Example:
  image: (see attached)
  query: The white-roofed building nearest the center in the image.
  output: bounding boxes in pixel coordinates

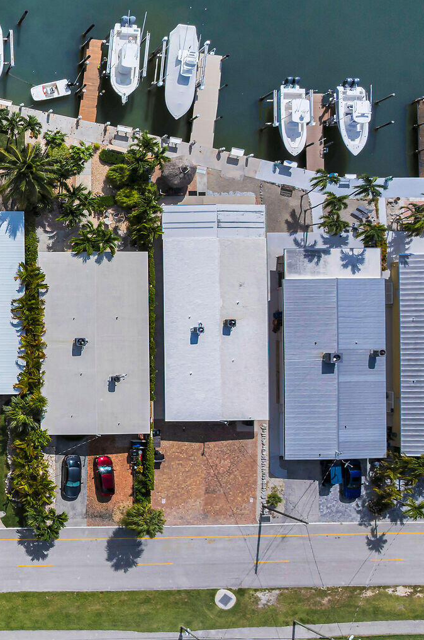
[157,205,269,422]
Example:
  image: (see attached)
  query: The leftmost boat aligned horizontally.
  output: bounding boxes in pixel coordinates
[32,79,77,99]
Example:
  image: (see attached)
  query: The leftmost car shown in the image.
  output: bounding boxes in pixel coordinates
[59,454,83,498]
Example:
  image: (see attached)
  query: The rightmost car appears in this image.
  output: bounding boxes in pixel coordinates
[338,460,364,499]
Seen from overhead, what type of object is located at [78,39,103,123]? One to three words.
pier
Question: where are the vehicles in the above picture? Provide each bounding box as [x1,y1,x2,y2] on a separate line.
[338,460,364,499]
[59,454,83,498]
[91,454,116,496]
[320,463,343,485]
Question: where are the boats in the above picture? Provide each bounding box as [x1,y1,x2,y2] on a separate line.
[335,78,402,156]
[110,18,165,105]
[32,79,77,99]
[164,25,202,121]
[278,78,339,156]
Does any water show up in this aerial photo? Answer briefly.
Yes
